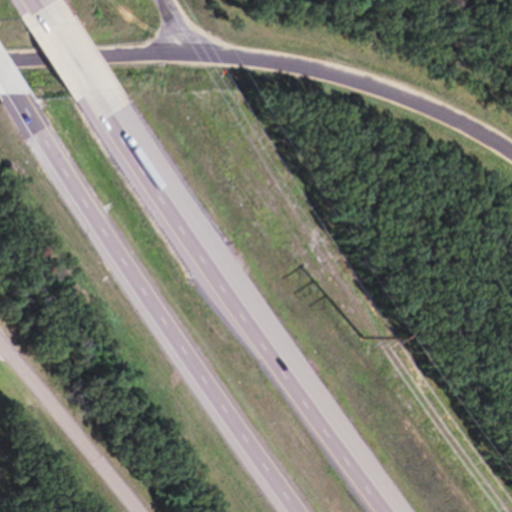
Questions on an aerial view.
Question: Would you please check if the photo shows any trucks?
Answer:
Yes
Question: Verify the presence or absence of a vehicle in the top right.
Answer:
No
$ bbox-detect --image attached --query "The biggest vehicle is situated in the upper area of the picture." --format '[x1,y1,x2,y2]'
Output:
[120,133,168,192]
